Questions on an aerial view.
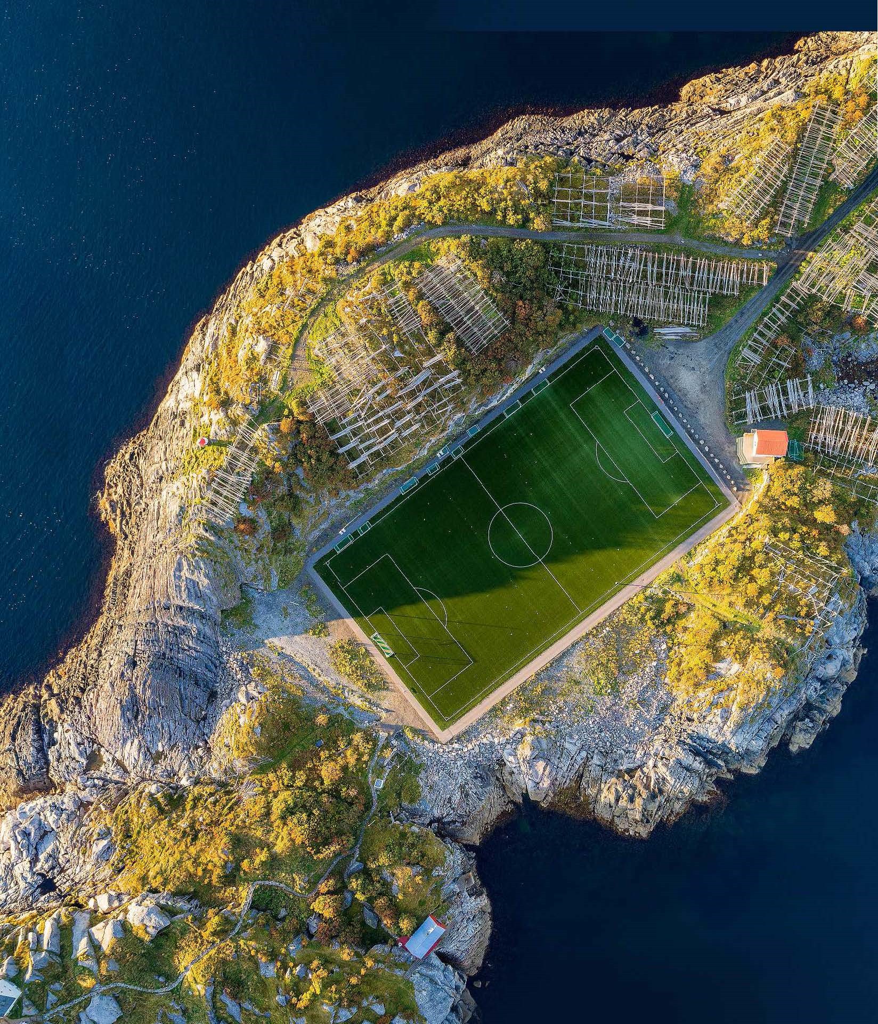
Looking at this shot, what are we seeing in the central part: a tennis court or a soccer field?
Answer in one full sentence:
The one visible in the central part is a soccer field.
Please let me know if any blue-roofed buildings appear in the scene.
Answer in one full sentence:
Yes, a blue-roofed building can be made out from above.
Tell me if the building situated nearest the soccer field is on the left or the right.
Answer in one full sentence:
The building situated nearest the soccer field sits on the right side.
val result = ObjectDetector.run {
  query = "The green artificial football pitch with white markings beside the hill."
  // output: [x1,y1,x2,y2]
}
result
[313,338,730,731]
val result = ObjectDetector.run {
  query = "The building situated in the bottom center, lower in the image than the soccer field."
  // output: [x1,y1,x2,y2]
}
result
[402,912,445,956]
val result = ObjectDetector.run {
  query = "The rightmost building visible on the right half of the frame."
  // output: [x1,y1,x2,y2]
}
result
[737,430,790,468]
